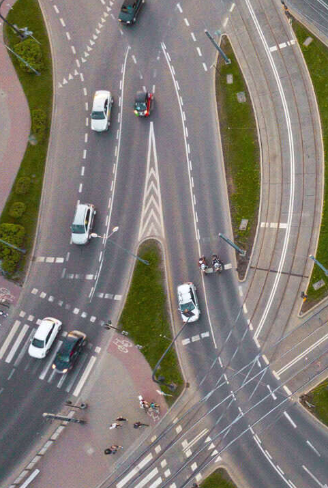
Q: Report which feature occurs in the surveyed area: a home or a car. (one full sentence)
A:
Of the two, only a car appears.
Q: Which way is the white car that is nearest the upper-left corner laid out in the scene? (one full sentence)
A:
I'd say the white car that is nearest the upper-left corner is aligned from top to bottom in the picture.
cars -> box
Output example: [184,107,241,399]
[91,91,114,131]
[177,279,200,325]
[53,330,86,375]
[29,315,61,361]
[71,204,96,245]
[133,91,153,116]
[117,0,145,25]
